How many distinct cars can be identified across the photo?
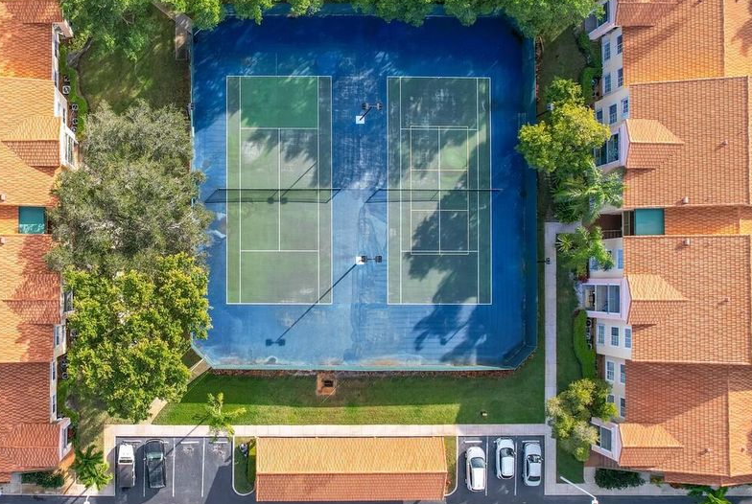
5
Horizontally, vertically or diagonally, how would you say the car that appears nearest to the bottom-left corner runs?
vertically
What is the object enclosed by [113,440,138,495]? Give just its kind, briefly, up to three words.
car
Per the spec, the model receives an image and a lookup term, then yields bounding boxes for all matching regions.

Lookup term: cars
[493,435,518,481]
[113,440,138,495]
[520,441,546,487]
[465,444,489,492]
[143,437,168,490]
